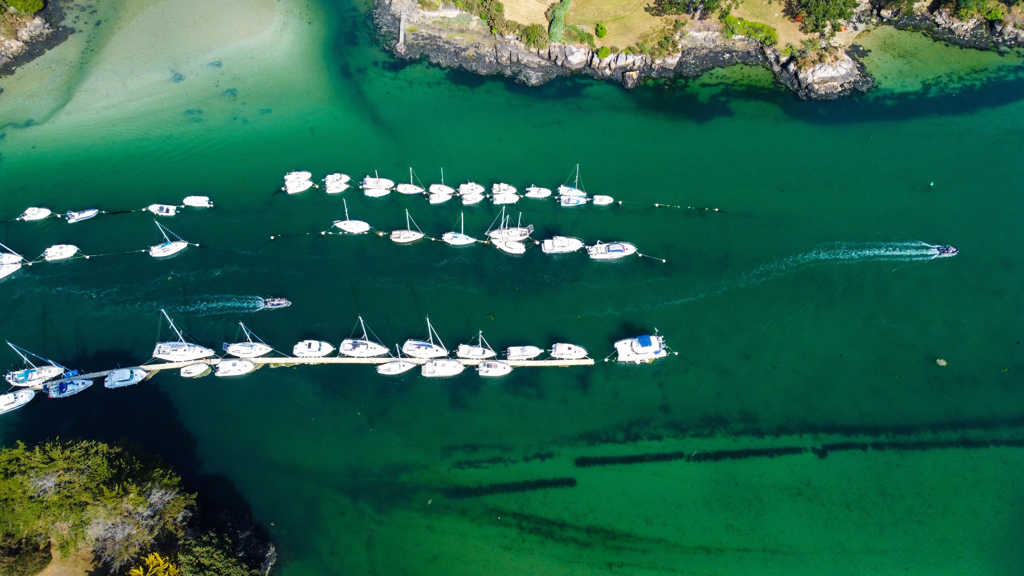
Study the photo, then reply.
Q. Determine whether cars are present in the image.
No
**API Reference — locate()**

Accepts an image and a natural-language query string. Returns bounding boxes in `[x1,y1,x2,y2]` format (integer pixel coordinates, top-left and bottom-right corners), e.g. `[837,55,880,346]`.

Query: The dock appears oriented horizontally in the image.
[7,357,593,393]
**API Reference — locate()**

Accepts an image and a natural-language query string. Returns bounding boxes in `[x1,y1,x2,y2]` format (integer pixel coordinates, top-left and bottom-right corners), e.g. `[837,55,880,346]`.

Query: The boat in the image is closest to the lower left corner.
[0,389,35,412]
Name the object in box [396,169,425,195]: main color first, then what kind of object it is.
white boat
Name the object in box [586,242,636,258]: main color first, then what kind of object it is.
white boat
